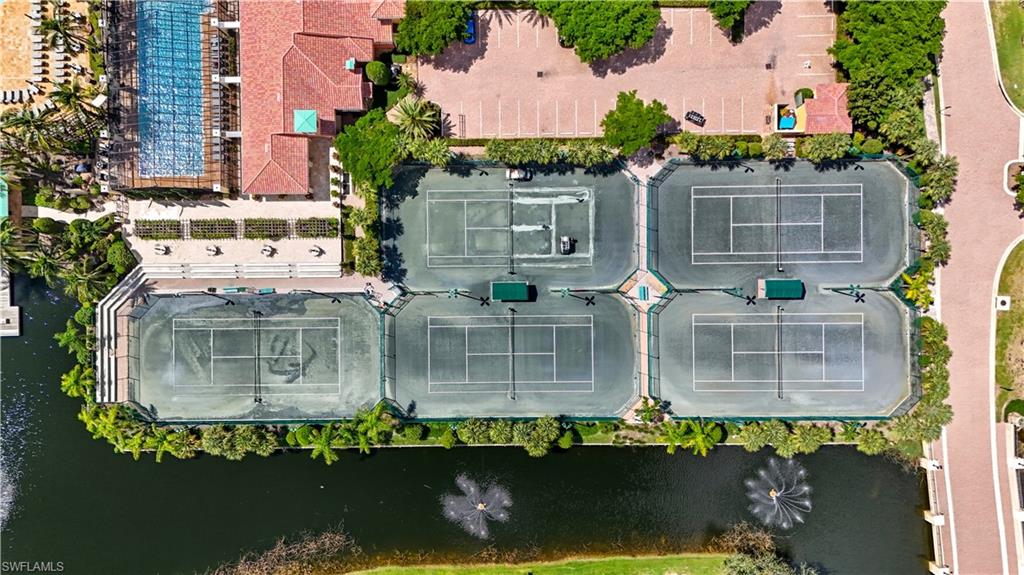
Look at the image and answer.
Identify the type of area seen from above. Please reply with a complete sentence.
What you see here is a sports ground.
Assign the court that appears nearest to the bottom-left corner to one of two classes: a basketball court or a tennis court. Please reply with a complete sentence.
Looking closely, the court that appears nearest to the bottom-left corner is a tennis court.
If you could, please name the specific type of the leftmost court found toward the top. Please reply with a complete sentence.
From above, the leftmost court found toward the top can be identified as a tennis court.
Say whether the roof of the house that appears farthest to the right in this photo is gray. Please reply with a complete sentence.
No, the roof of the house that appears farthest to the right is actually pink.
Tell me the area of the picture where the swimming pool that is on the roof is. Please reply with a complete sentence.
You can find the swimming pool that is on the roof in the top left area of the picture.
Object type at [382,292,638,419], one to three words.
tennis court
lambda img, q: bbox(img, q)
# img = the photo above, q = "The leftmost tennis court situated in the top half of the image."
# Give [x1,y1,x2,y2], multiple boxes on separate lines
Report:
[380,163,638,292]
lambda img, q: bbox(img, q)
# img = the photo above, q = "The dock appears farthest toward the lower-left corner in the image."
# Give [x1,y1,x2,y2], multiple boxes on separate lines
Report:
[0,277,22,333]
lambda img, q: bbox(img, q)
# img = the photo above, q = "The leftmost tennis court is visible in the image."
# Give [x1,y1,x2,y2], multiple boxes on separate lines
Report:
[128,293,377,419]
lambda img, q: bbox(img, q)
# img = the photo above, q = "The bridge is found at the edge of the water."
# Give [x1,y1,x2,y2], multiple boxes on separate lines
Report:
[920,422,1024,575]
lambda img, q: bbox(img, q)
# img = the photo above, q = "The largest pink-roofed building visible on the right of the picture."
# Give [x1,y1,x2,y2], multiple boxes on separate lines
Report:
[792,82,853,136]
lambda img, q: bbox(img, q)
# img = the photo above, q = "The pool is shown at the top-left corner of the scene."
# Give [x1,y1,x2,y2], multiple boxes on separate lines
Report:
[136,0,208,179]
